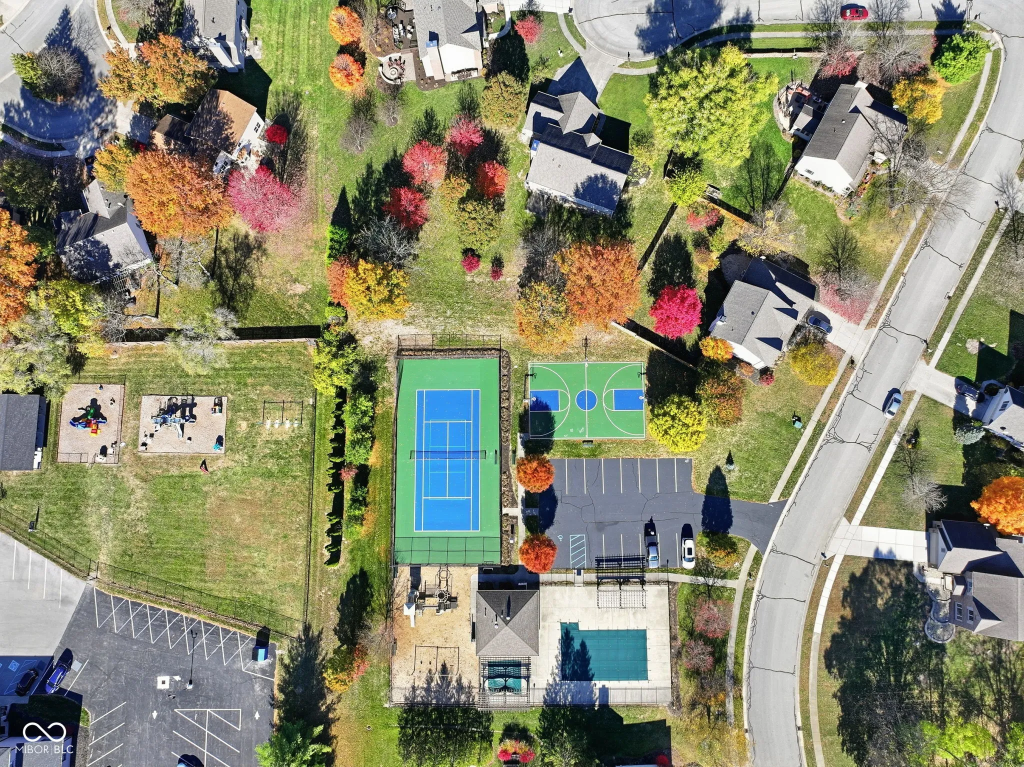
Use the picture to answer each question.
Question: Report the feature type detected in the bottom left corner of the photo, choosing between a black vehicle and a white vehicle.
black vehicle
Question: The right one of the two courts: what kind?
basketball court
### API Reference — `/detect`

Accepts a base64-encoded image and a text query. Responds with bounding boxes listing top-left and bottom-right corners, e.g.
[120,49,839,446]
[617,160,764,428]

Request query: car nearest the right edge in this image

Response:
[953,383,985,405]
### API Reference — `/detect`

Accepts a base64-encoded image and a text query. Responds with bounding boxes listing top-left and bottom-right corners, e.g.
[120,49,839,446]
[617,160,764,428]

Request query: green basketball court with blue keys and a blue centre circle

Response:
[529,362,646,439]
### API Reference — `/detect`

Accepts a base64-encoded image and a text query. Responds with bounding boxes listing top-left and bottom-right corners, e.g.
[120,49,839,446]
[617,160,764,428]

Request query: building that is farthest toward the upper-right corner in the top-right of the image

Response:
[790,77,915,200]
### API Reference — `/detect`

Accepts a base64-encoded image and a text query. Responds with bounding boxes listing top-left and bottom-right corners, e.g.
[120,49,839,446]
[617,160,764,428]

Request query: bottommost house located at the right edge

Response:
[928,519,1024,639]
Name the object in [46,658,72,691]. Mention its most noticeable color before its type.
blue car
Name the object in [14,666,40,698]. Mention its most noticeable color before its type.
black car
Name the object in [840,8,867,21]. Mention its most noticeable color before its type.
red vehicle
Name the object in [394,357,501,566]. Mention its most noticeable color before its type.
green tennis court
